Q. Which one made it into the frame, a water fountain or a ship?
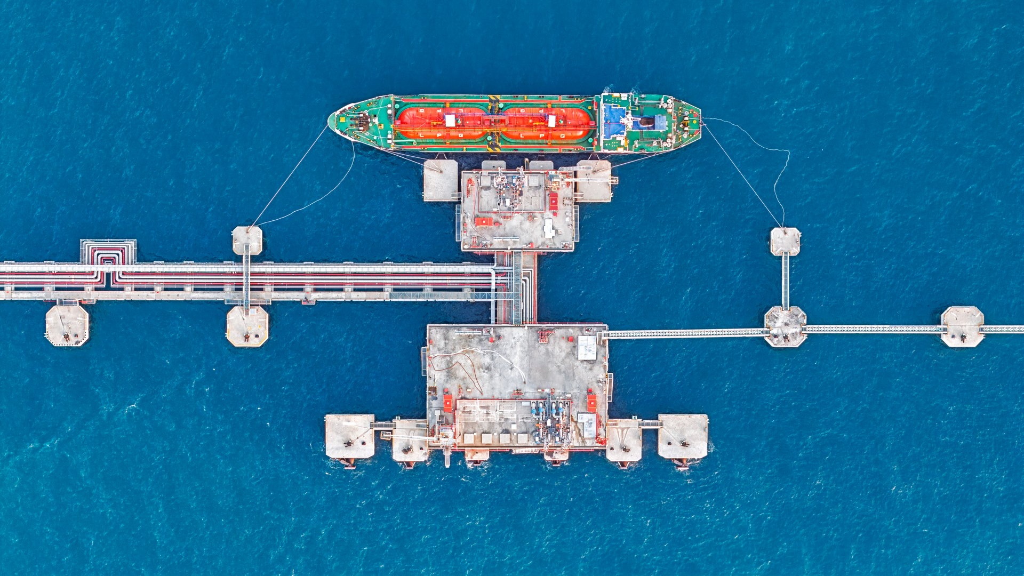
ship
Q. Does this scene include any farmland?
No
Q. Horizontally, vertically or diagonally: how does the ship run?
horizontally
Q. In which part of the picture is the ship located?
top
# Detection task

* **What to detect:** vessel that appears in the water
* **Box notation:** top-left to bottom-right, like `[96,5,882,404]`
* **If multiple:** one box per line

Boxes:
[327,92,707,158]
